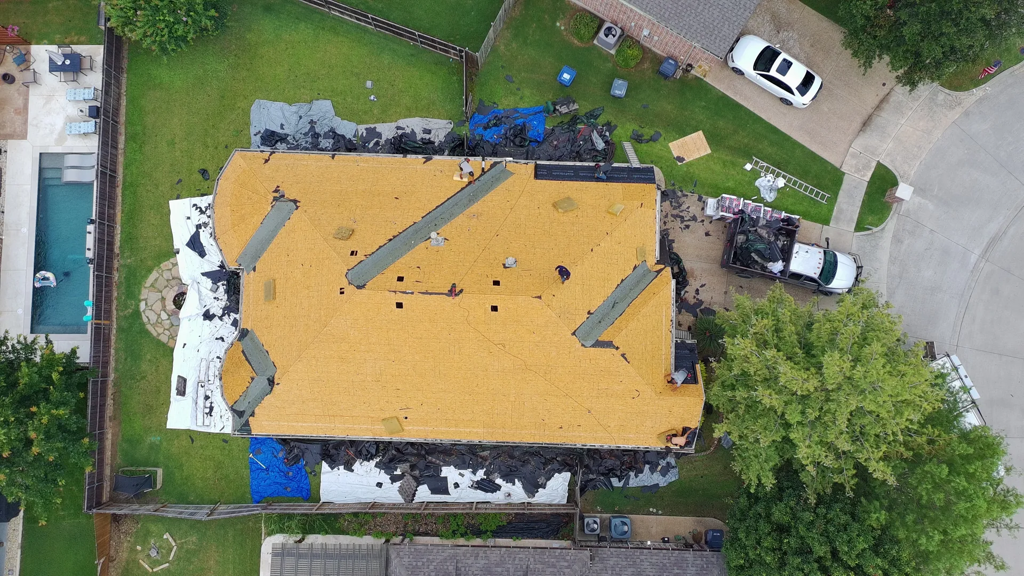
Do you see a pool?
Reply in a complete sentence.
Yes, a pool can be made out from above.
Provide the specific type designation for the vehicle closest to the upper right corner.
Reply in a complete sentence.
The vehicle closest to the upper right corner in the image is a car.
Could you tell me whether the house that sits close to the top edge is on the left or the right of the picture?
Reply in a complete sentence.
The house that sits close to the top edge appears in the right half of the scene.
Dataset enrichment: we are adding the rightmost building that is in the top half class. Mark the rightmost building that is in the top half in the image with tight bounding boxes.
[585,0,762,71]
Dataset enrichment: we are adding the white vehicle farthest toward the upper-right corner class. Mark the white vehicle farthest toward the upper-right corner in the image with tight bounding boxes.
[727,36,826,108]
